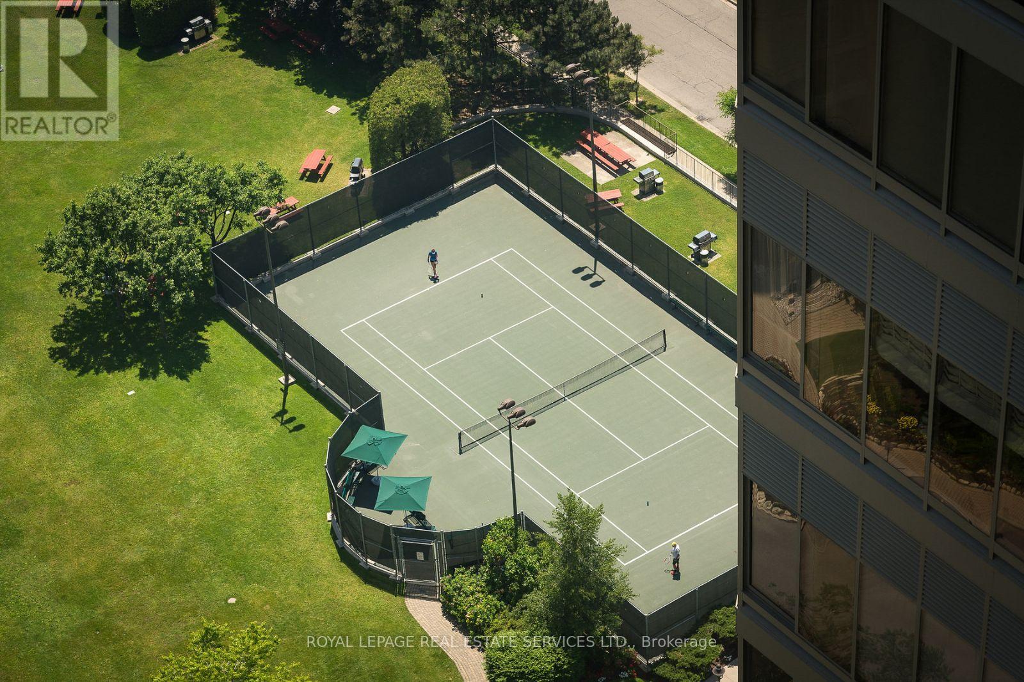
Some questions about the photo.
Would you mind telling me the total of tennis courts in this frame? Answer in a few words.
1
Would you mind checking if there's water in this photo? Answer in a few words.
No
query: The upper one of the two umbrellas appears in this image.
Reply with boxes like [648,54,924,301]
[342,425,408,487]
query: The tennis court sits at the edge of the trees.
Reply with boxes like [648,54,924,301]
[221,169,736,659]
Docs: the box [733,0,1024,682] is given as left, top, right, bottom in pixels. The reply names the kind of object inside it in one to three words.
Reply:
building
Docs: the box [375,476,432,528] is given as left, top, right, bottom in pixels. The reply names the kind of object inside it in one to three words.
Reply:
umbrella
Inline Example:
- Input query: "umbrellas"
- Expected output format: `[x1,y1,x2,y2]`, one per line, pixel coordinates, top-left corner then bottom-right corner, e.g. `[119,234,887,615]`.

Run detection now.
[342,425,408,487]
[375,476,432,528]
